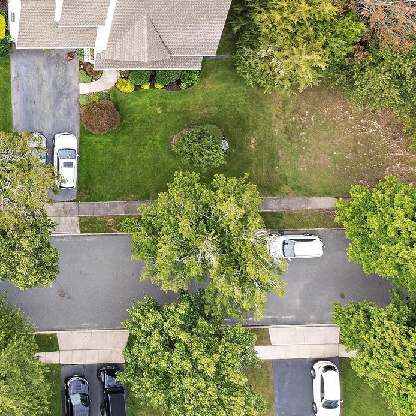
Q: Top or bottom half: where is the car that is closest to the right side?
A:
bottom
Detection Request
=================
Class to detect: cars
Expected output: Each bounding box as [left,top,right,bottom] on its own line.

[308,358,340,416]
[100,363,129,416]
[52,132,80,188]
[61,372,92,416]
[265,230,325,260]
